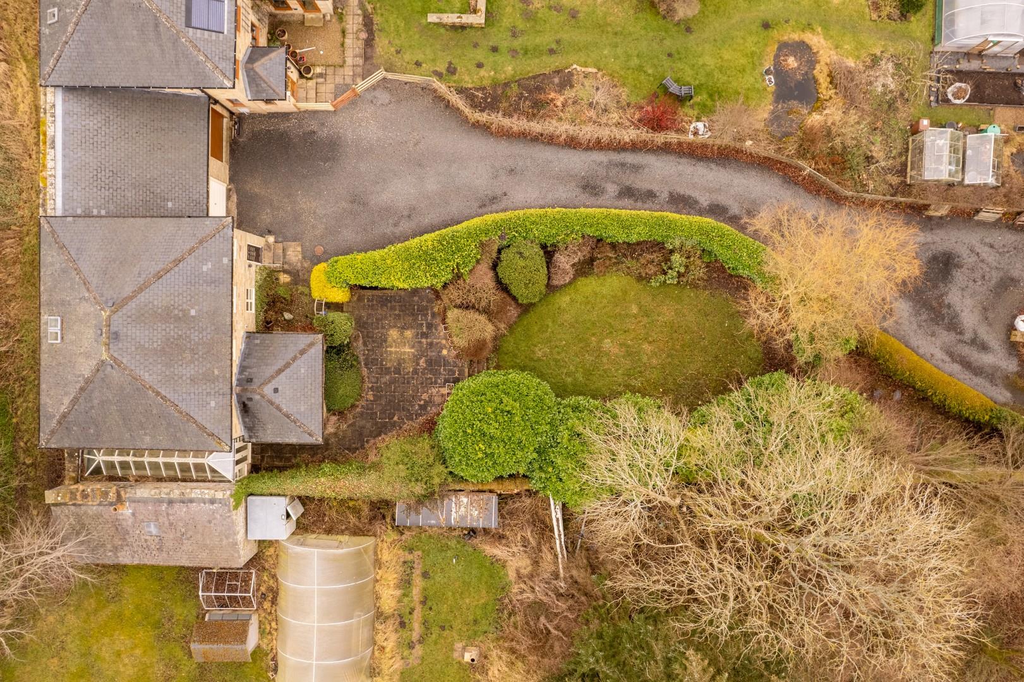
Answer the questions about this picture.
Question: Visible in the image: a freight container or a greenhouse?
greenhouse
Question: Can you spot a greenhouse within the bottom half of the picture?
Yes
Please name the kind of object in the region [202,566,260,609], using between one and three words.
greenhouse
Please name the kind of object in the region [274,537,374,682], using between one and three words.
greenhouse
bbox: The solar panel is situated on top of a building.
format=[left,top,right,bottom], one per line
[186,0,227,32]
